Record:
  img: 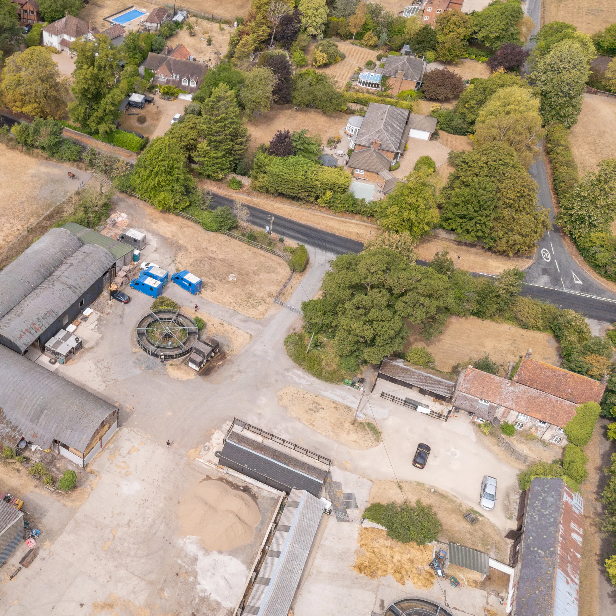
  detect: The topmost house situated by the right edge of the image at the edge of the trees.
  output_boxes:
[449,345,611,448]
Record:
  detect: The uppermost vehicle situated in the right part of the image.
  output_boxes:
[415,439,434,469]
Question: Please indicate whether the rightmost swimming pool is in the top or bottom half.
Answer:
top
